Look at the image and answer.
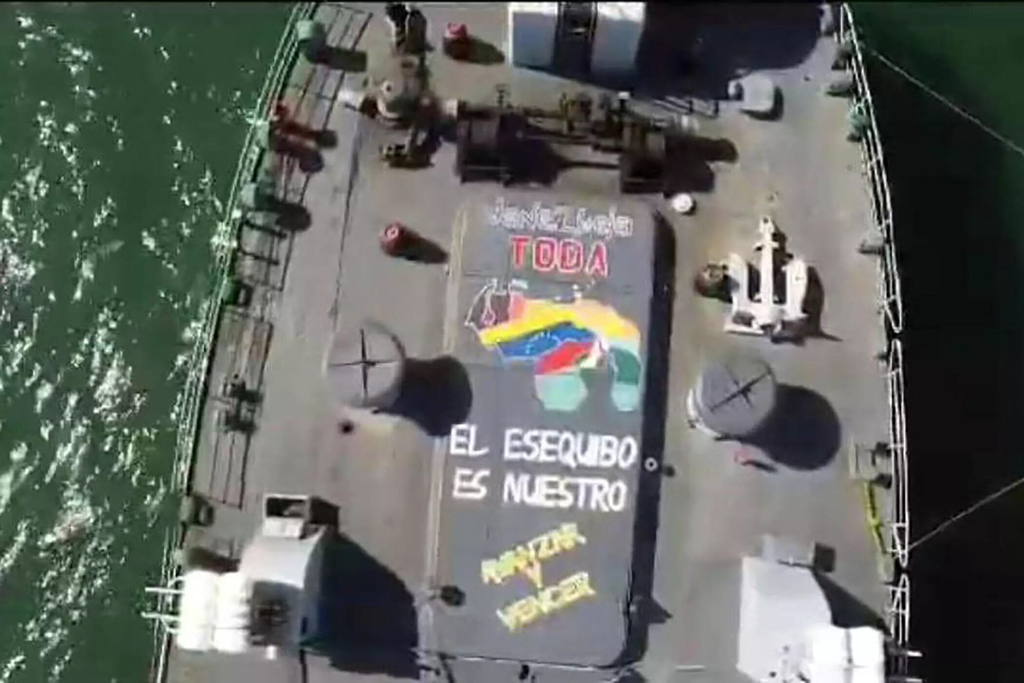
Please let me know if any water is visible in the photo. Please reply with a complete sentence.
Yes, the picture does contain water.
